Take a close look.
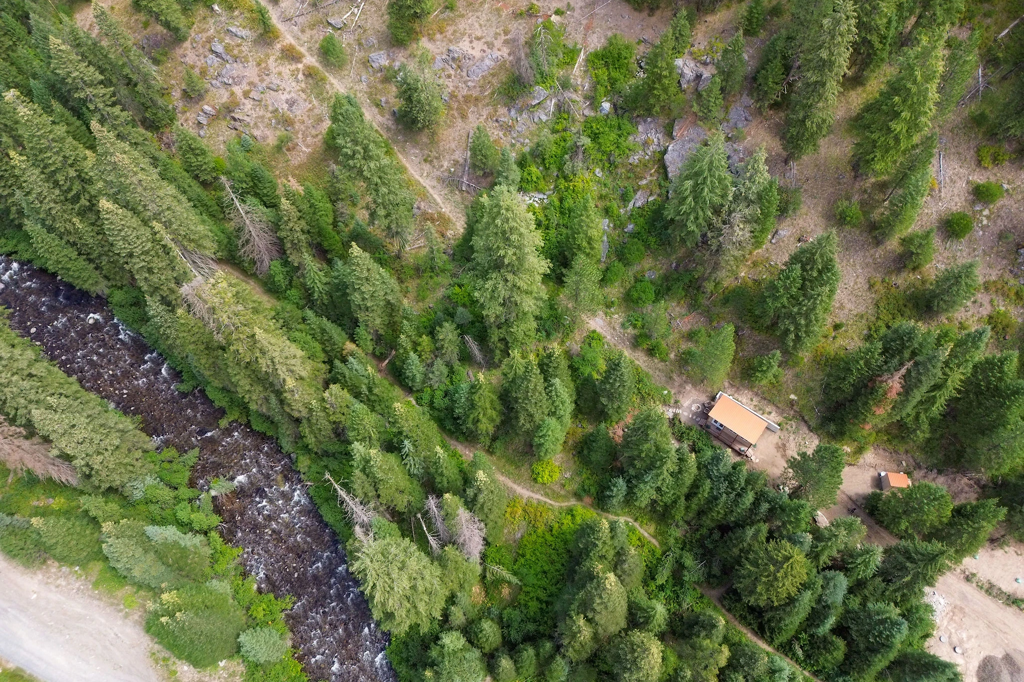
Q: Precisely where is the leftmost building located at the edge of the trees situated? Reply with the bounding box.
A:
[698,395,767,460]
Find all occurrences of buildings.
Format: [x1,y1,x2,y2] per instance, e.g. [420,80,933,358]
[878,470,907,491]
[698,395,767,460]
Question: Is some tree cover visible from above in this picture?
Yes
